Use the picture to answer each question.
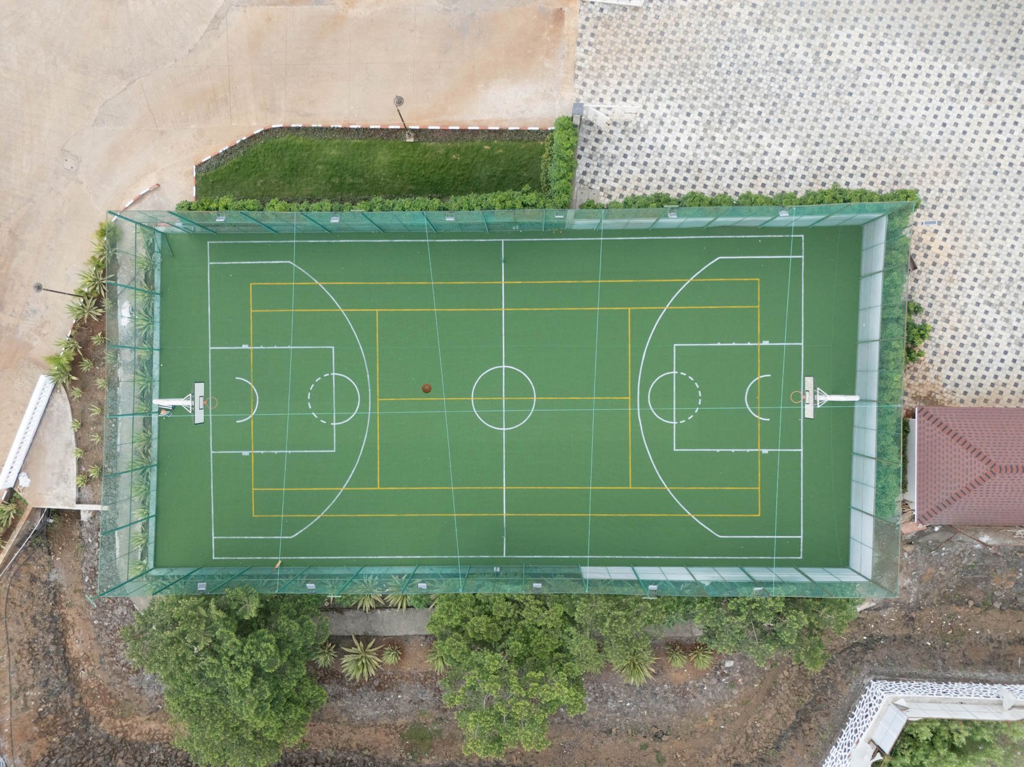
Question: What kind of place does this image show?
sports ground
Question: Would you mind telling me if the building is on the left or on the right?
right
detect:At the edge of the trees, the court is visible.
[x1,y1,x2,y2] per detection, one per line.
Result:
[144,216,874,579]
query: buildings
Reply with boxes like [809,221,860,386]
[889,405,1024,528]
